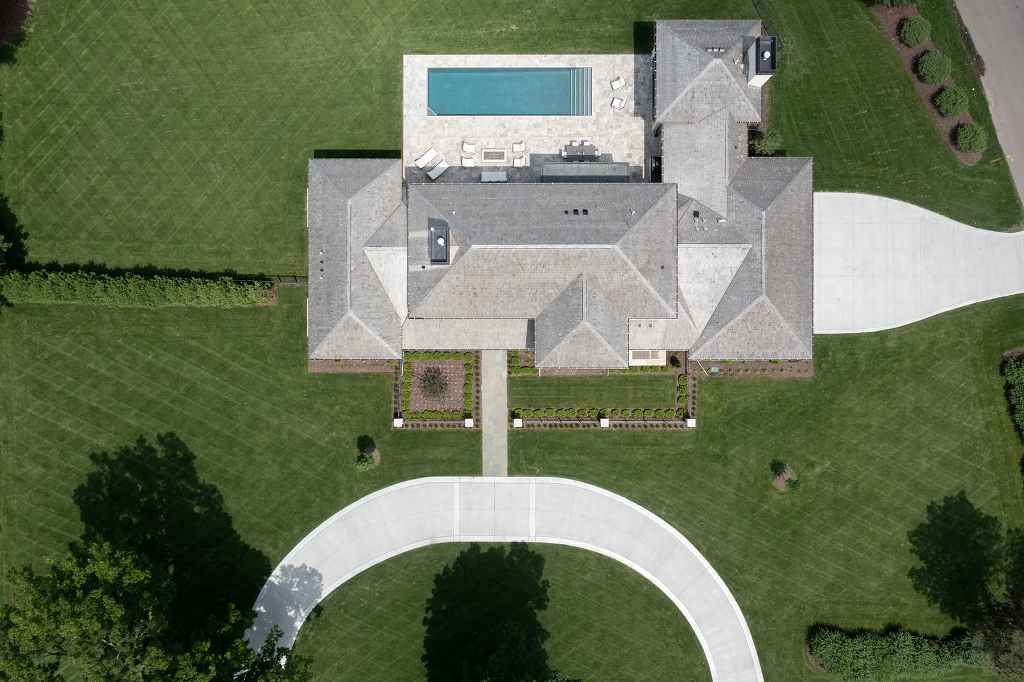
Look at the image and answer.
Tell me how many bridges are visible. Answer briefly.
0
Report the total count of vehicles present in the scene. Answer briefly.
zero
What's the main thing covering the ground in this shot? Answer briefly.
grass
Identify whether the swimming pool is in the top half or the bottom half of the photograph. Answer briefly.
top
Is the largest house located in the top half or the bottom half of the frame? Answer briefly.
top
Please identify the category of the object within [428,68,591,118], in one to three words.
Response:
swimming pool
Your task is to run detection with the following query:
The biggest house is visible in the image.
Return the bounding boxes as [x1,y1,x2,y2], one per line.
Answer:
[307,18,815,371]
